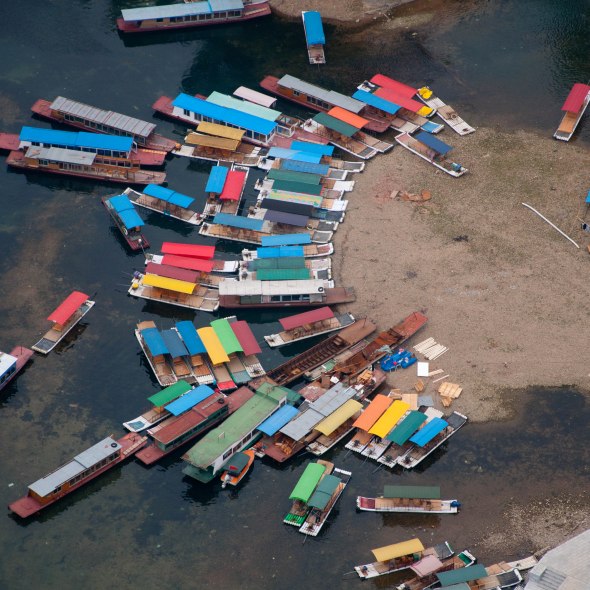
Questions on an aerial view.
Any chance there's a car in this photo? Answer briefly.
No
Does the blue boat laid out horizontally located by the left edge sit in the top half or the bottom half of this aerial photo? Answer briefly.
top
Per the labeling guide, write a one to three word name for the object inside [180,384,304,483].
boat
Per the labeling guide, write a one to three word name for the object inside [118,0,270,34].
boat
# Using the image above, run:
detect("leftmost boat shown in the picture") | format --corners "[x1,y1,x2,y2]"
[0,342,36,395]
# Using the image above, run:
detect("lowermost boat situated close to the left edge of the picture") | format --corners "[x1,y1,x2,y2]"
[9,432,148,517]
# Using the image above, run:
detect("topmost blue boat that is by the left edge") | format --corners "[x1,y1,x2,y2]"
[0,127,167,169]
